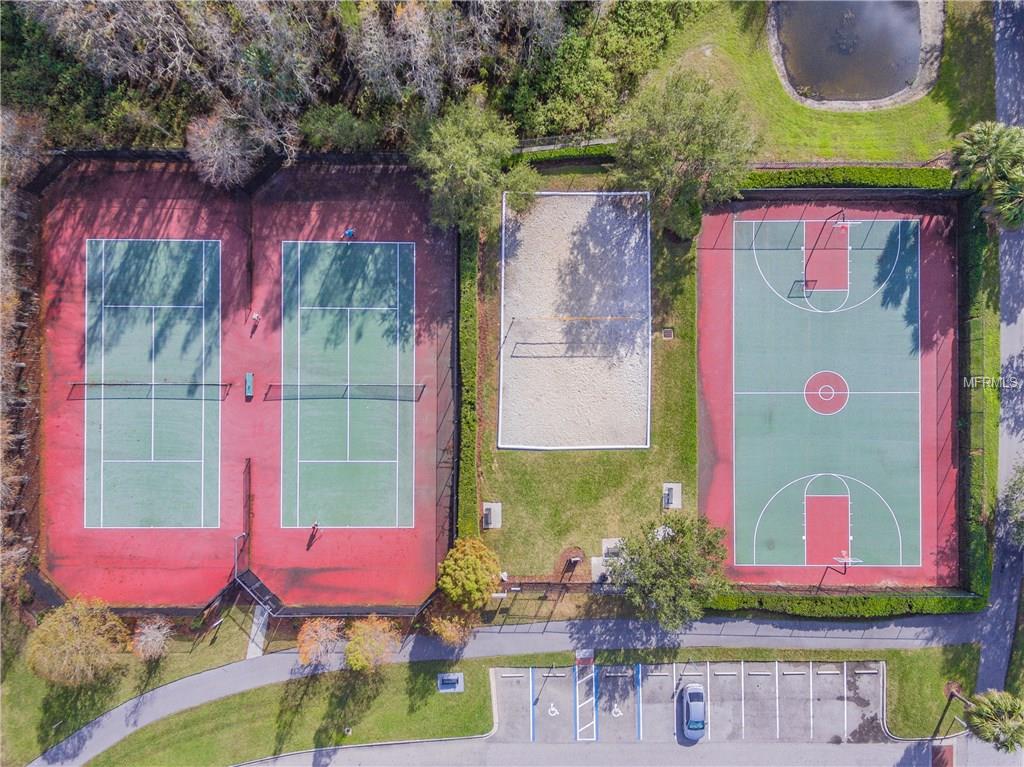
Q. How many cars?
1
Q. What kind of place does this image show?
sports ground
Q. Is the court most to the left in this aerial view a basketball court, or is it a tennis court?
tennis court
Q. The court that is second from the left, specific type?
tennis court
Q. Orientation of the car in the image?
up and down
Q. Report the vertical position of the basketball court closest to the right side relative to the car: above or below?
above it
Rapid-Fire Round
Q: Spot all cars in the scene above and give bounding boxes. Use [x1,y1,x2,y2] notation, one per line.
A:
[681,683,709,739]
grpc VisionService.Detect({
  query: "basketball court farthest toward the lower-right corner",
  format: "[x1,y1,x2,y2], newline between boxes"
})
[697,202,958,587]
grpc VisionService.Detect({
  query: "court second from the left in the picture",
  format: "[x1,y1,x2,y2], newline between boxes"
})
[249,160,453,605]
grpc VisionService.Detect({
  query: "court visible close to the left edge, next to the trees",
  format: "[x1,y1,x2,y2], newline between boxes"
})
[40,160,249,605]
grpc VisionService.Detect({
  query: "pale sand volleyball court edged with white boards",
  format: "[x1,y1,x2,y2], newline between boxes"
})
[497,191,651,449]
